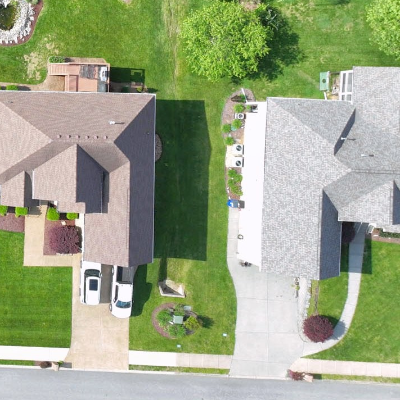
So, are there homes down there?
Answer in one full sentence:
Yes, the image includes a home.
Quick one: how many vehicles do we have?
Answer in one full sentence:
In total, there are 2 vehicles in the scene.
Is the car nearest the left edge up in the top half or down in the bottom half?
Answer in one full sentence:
You can find the car nearest the left edge in the bottom half.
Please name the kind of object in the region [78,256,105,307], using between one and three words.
car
